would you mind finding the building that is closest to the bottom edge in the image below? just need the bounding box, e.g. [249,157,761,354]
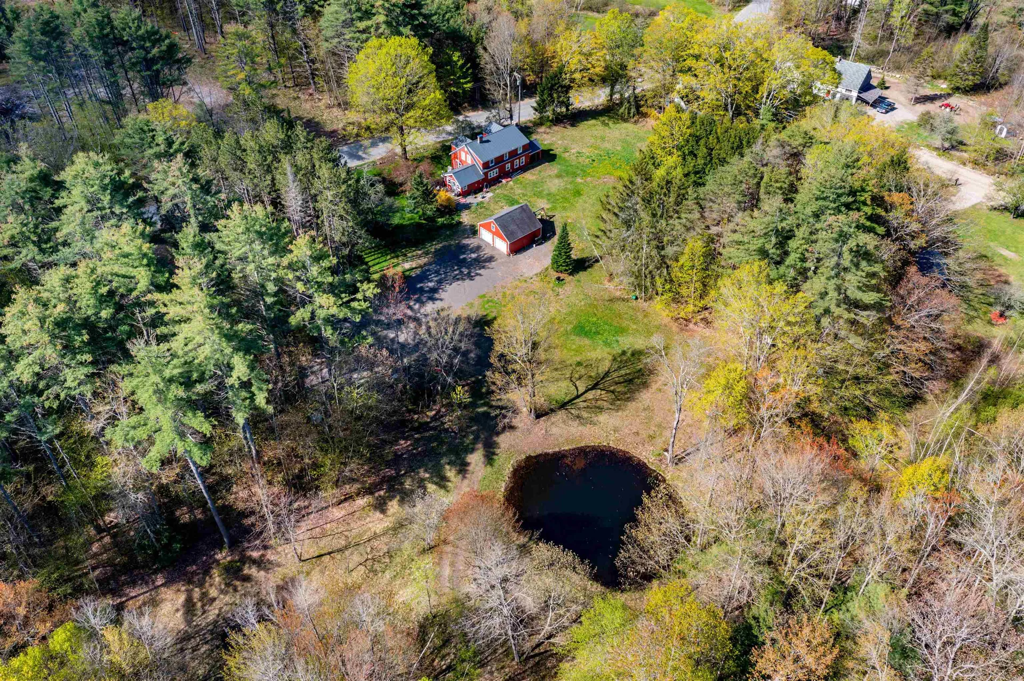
[477,202,542,255]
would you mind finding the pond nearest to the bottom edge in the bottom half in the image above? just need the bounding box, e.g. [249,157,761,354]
[501,446,681,593]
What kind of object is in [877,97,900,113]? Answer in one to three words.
vehicle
